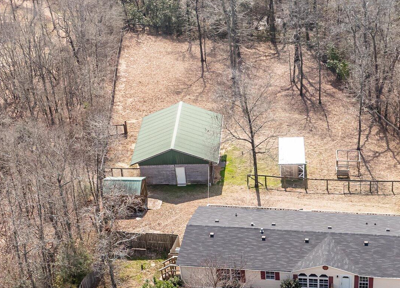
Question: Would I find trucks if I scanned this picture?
No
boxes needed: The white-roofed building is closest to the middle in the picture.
[132,97,228,188]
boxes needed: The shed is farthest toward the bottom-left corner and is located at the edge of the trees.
[104,179,147,207]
